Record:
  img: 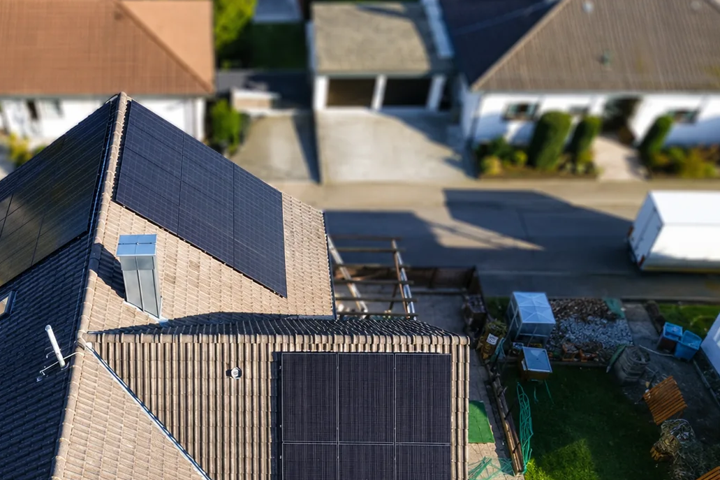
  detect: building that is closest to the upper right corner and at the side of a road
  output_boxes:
[440,0,720,147]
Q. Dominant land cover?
buildings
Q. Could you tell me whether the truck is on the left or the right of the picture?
right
